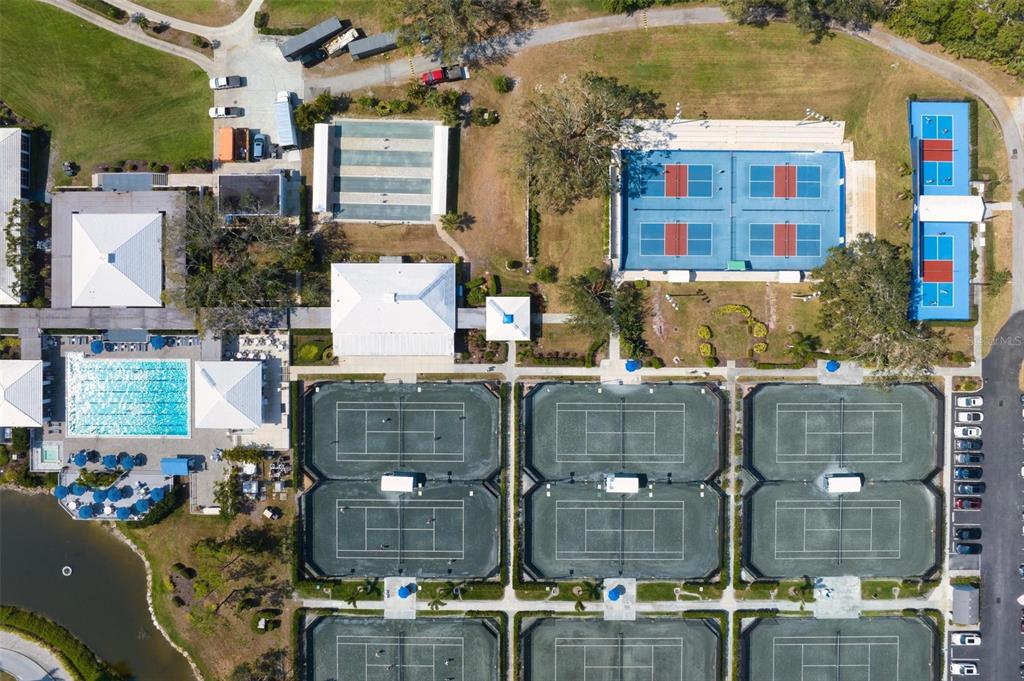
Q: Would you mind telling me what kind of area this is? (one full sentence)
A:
What you see here is a sports ground.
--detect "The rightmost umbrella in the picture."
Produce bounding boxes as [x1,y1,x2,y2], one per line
[825,360,838,373]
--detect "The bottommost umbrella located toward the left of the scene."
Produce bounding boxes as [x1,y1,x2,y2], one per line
[398,585,411,598]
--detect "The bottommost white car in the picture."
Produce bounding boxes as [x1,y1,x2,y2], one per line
[949,662,978,677]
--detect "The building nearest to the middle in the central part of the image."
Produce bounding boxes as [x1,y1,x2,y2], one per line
[486,296,531,342]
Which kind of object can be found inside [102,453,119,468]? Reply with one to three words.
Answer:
umbrella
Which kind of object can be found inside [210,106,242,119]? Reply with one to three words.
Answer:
vehicle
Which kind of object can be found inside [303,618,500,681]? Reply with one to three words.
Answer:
tennis court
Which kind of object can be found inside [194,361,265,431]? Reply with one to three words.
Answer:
building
